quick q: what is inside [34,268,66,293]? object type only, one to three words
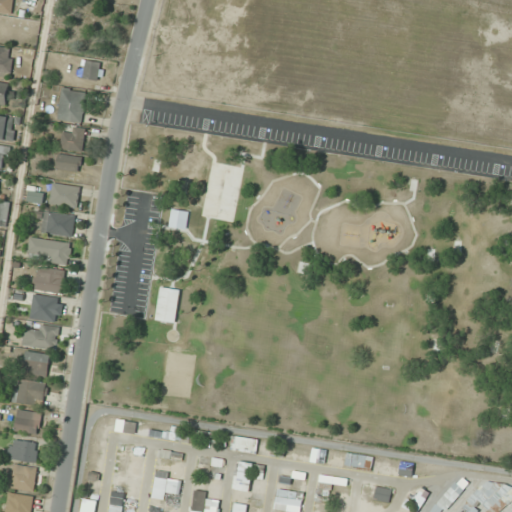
house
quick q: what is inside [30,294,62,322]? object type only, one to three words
house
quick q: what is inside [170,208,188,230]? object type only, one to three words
building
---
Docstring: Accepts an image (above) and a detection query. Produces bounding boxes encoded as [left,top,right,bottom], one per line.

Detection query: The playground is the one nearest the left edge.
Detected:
[258,188,302,234]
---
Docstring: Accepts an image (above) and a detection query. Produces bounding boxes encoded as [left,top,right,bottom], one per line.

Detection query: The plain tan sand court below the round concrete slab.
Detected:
[164,352,196,398]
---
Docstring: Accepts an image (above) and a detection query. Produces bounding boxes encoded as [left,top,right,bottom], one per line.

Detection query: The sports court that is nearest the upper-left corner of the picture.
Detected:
[202,162,244,222]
